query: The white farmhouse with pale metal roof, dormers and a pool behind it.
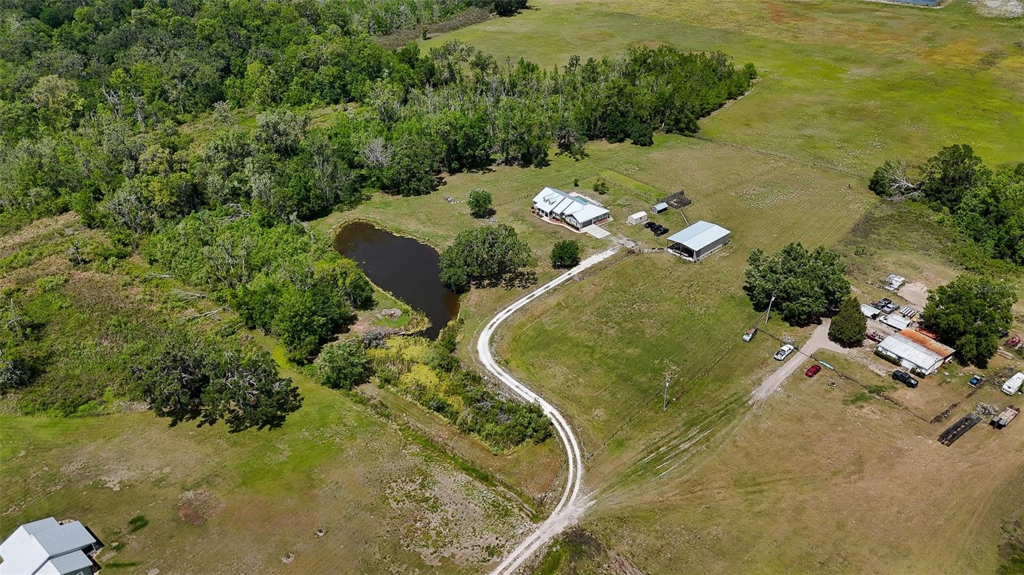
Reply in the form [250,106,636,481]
[529,186,609,230]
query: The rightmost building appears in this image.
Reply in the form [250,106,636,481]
[877,328,955,377]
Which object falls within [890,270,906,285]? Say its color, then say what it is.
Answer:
white vehicle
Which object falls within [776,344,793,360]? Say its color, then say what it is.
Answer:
white vehicle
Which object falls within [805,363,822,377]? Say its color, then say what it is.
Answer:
red car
